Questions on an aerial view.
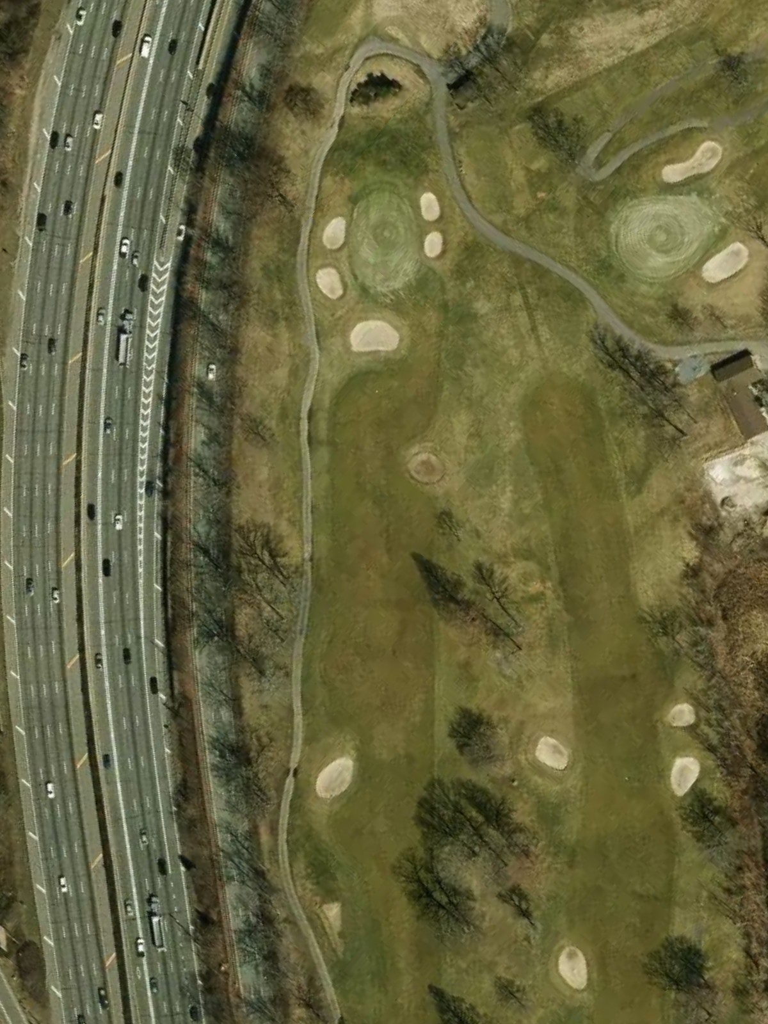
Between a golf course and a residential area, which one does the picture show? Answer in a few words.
golf course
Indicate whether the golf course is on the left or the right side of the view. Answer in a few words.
right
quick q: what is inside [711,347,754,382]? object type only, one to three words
shed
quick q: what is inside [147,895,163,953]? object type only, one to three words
vehicle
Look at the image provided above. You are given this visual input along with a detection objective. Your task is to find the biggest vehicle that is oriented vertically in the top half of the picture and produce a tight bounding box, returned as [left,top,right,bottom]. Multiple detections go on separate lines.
[119,310,133,368]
